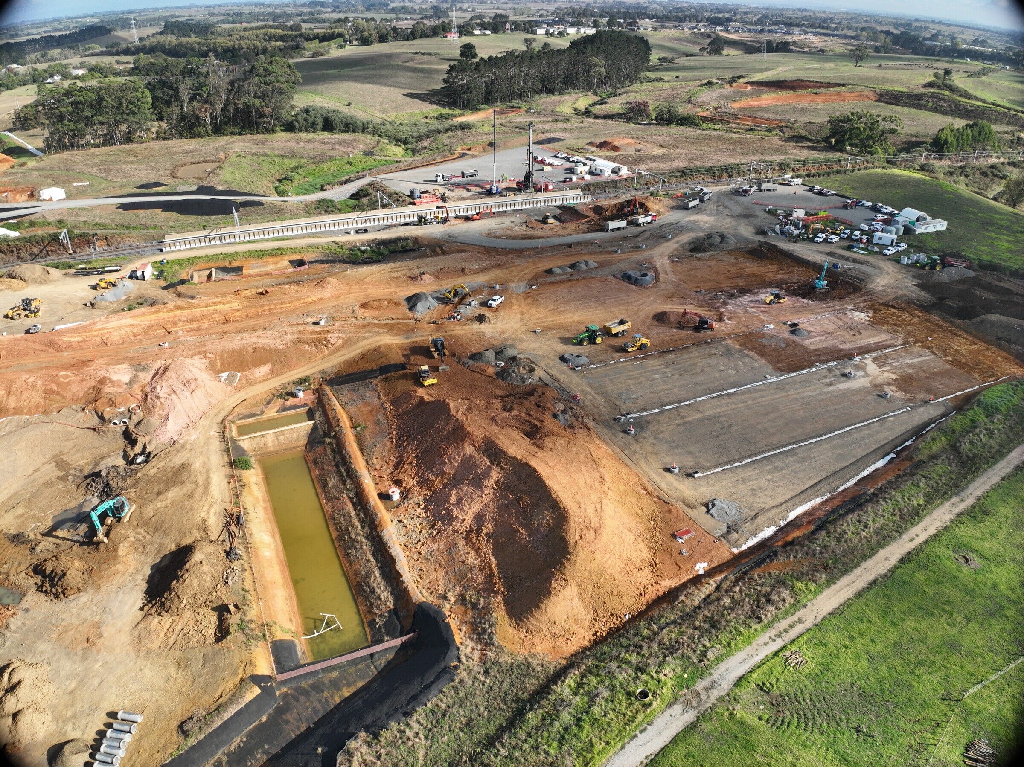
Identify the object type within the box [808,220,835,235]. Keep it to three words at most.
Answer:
work vehicle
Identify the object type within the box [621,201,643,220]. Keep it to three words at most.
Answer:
work vehicle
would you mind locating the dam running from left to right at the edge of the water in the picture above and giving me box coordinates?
[234,407,317,448]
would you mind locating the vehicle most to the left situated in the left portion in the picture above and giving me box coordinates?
[7,301,39,318]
